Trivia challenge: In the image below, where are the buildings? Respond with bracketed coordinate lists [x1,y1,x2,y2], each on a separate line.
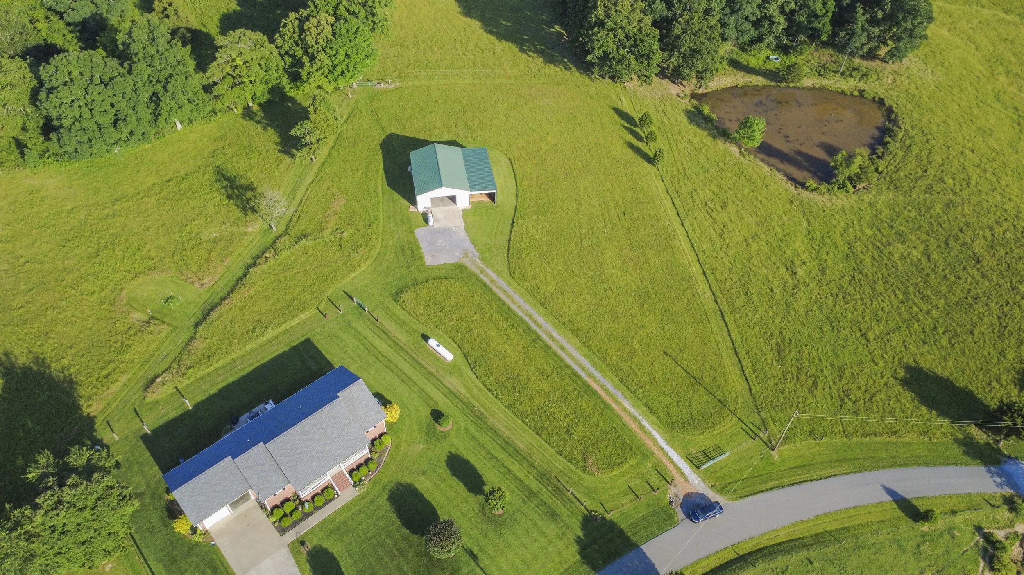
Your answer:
[411,141,497,210]
[163,365,386,533]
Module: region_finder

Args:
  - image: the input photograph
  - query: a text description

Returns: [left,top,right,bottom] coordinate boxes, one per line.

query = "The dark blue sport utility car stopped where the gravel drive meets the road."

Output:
[689,498,725,521]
